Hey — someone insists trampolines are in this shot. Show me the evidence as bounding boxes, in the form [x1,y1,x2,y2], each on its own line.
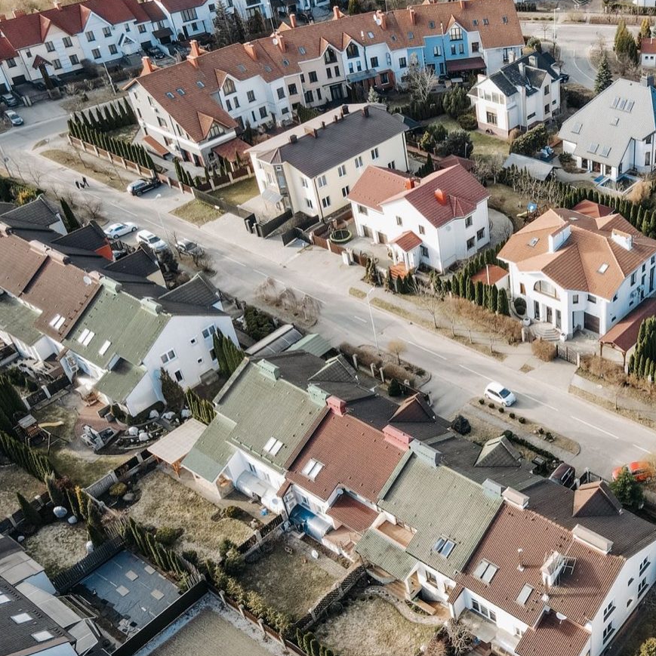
[329,228,353,242]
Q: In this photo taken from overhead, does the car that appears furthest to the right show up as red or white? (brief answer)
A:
red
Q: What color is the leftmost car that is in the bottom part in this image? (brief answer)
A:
white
